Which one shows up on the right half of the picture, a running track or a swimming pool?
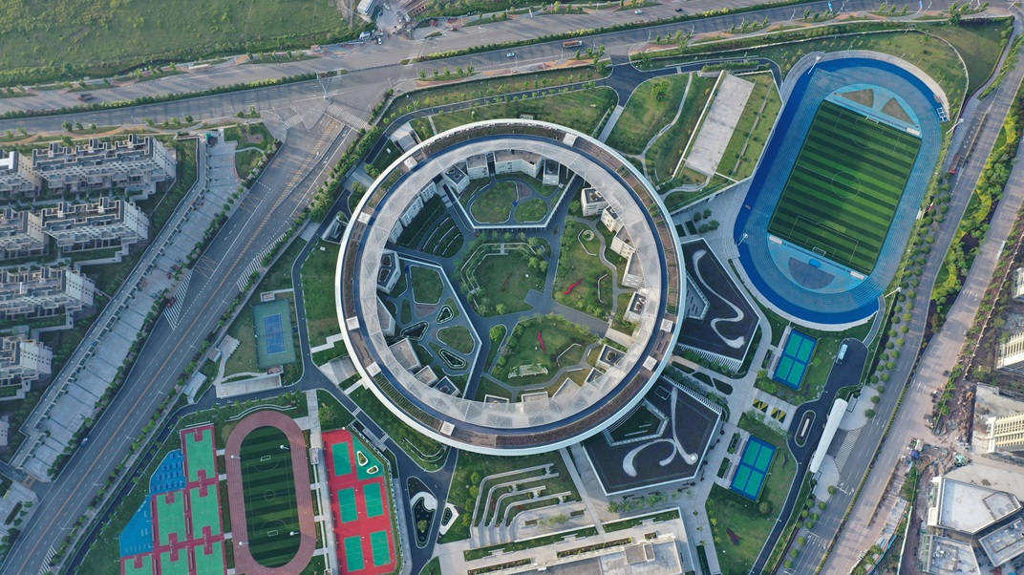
running track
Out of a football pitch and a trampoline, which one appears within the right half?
football pitch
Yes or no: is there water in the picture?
No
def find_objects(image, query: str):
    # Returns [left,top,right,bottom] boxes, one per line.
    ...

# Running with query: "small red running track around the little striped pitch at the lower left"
[223,409,318,575]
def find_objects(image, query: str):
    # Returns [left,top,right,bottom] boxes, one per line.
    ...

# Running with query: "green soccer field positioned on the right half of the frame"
[765,97,924,278]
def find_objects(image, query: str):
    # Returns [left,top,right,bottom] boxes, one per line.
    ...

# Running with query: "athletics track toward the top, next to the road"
[729,50,950,331]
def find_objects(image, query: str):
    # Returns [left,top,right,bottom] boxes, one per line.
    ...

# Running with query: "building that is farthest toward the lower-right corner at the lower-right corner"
[969,518,1024,566]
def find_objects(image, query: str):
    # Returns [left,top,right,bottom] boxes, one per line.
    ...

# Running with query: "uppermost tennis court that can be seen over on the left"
[255,299,296,368]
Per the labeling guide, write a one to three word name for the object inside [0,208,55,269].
building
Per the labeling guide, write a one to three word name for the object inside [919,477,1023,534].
house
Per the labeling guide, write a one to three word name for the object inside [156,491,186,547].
basketball court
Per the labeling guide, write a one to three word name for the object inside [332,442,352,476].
sports court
